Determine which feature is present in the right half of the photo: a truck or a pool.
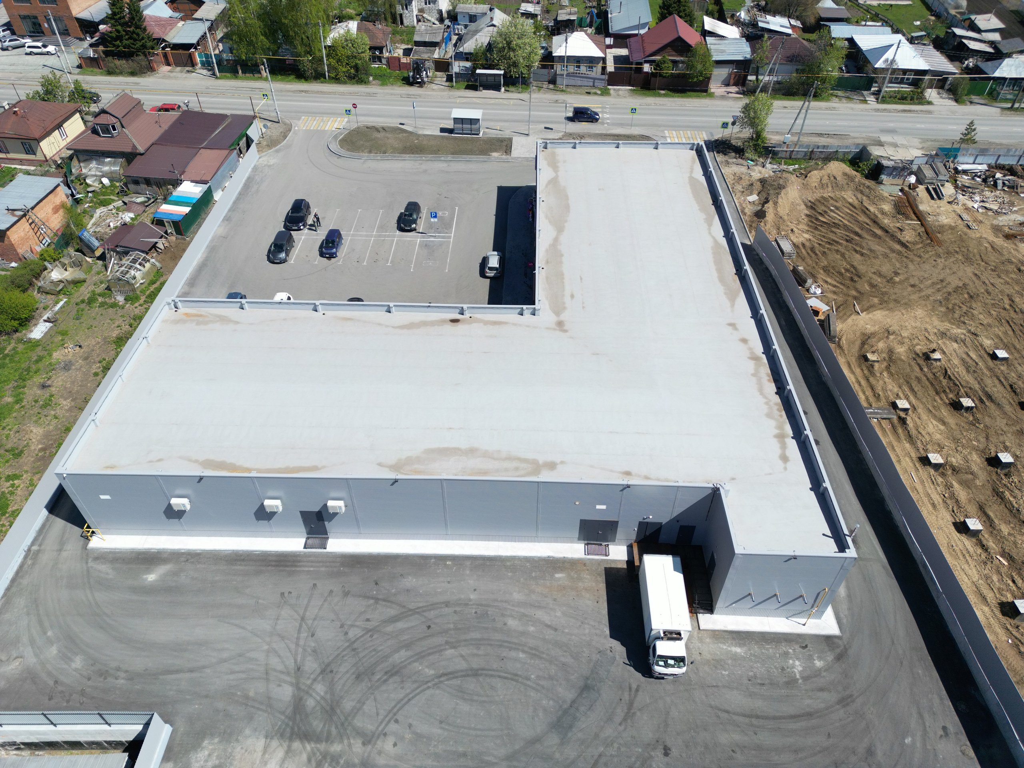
truck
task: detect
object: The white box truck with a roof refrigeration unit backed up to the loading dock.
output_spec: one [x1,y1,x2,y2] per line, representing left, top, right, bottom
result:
[639,556,696,681]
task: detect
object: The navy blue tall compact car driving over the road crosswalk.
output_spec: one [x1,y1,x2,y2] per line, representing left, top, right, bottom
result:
[571,104,601,121]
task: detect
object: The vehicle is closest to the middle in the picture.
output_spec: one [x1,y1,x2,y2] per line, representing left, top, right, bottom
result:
[484,247,505,274]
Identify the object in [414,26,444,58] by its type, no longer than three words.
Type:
shed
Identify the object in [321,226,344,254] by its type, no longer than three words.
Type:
car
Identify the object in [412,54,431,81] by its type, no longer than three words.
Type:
work vehicle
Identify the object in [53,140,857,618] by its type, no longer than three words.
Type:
building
